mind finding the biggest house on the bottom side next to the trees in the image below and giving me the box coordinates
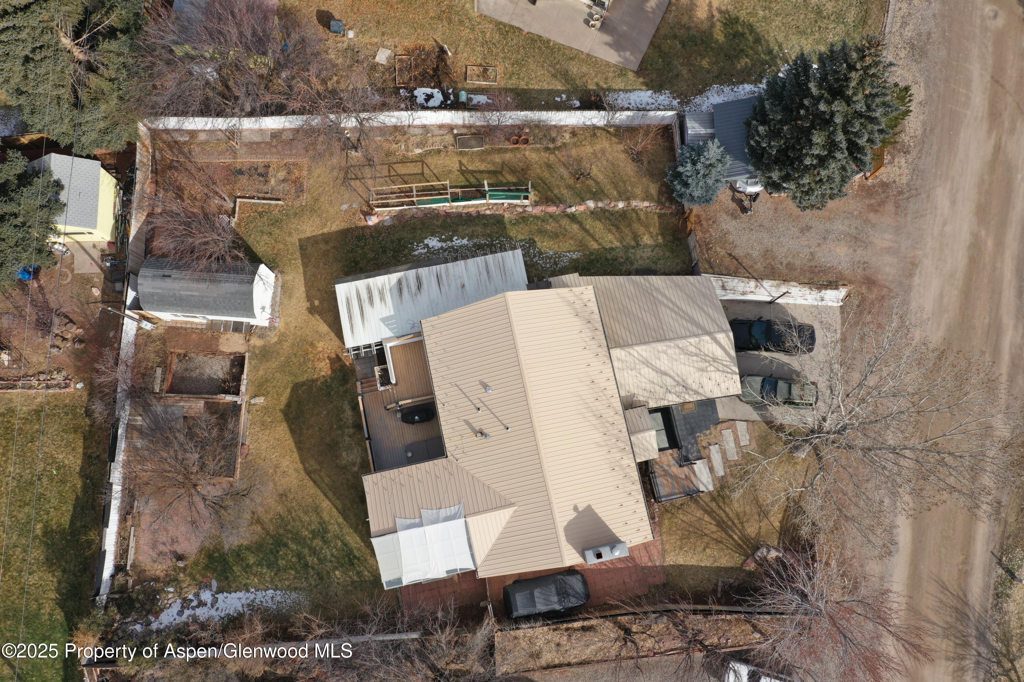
[363,283,658,580]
